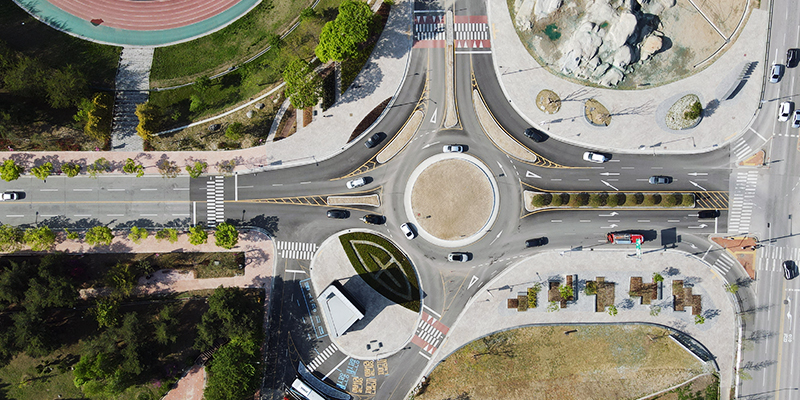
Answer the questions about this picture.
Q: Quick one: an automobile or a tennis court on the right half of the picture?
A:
automobile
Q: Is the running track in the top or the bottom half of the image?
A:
top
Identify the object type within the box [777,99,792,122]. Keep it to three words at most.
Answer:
car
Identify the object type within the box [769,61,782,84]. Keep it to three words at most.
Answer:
vehicle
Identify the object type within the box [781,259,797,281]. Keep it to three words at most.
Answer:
car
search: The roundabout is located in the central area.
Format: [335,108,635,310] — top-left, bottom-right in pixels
[362,86,563,316]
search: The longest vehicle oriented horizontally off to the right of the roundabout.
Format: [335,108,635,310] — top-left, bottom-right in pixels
[606,233,647,247]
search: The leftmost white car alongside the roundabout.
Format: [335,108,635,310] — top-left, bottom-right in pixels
[344,176,366,190]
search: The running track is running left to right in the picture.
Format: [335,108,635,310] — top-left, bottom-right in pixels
[12,0,262,48]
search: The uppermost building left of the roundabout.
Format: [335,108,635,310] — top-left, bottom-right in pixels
[317,280,366,337]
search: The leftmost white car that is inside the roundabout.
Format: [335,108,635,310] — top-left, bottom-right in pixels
[399,220,416,241]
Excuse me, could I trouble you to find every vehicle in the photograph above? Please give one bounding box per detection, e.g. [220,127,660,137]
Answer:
[523,236,548,248]
[781,259,797,281]
[362,130,384,149]
[521,125,545,142]
[582,151,605,162]
[777,99,792,122]
[441,143,463,154]
[0,191,20,202]
[399,220,416,241]
[446,252,467,262]
[791,108,800,130]
[647,175,672,186]
[784,46,800,70]
[362,213,386,224]
[326,209,350,220]
[695,209,720,220]
[606,233,647,247]
[769,61,782,84]
[344,176,366,190]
